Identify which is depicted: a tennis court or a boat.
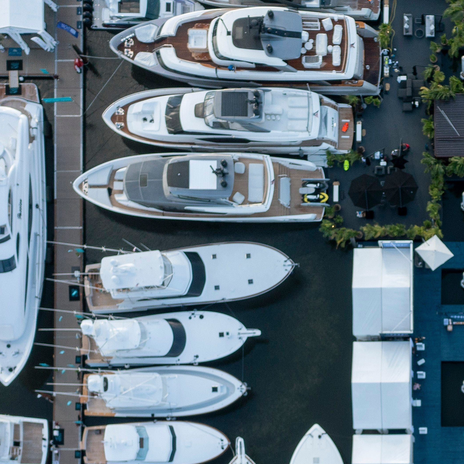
boat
